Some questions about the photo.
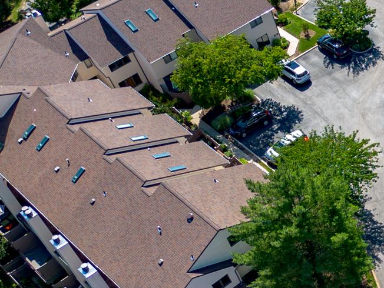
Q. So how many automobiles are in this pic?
four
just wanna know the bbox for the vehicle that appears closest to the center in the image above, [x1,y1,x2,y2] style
[225,105,273,139]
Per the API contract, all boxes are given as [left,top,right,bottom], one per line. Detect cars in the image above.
[317,34,353,58]
[225,105,273,139]
[263,129,296,159]
[276,58,313,83]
